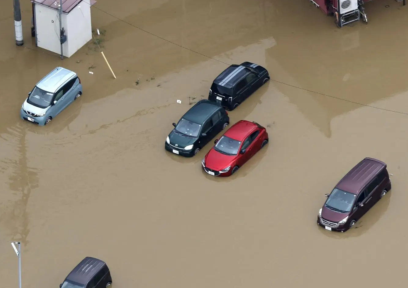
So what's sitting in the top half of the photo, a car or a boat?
car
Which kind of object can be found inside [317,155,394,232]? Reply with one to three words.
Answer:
car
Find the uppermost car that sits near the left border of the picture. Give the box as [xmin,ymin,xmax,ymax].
[19,66,81,126]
